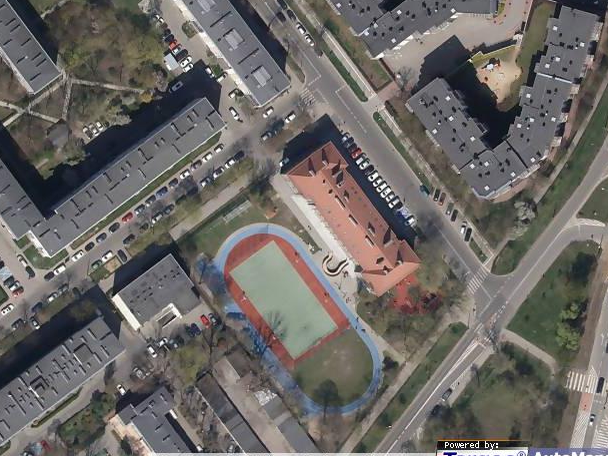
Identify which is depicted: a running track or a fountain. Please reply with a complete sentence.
The one in the frame is a running track.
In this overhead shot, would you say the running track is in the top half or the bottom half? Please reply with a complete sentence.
The running track is in the bottom half of the image.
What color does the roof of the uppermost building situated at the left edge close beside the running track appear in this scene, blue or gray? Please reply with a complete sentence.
The color of the roof of the uppermost building situated at the left edge close beside the running track is gray.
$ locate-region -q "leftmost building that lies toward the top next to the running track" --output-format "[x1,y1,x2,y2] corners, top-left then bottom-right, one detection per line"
[0,97,225,257]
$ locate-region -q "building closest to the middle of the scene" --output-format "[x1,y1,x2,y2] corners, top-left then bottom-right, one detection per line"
[283,140,421,296]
